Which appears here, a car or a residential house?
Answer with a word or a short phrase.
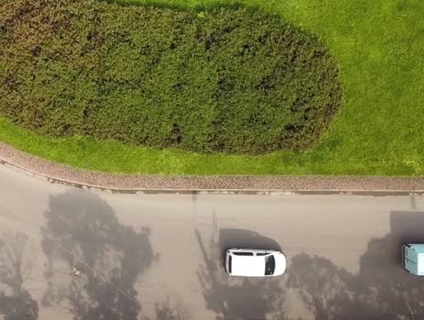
car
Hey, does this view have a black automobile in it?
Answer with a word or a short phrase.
No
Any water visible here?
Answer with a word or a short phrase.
No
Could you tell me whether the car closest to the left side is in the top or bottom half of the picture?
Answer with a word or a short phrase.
bottom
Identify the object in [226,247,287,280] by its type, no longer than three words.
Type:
car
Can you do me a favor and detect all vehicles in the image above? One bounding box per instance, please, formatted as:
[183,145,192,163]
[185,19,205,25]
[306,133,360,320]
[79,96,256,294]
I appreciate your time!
[400,242,424,276]
[226,247,287,280]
